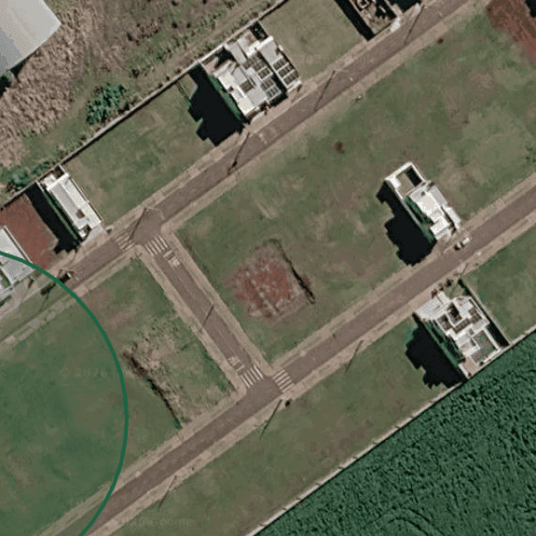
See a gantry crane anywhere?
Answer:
No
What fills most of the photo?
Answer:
grass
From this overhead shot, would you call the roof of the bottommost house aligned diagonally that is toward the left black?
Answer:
No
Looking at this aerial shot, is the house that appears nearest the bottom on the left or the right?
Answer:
right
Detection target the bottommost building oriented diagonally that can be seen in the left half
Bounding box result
[37,174,103,241]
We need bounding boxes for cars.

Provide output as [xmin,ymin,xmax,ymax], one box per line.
[61,271,75,283]
[458,237,472,249]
